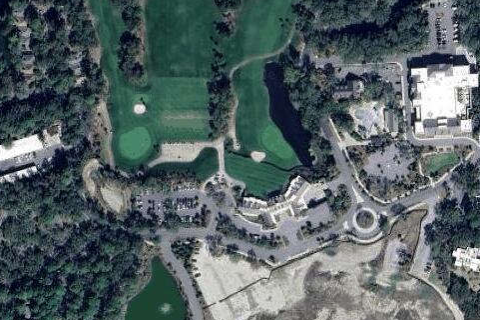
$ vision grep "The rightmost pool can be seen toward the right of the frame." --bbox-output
[351,100,385,141]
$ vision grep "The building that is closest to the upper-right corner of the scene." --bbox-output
[412,64,480,136]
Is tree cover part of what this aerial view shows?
Yes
